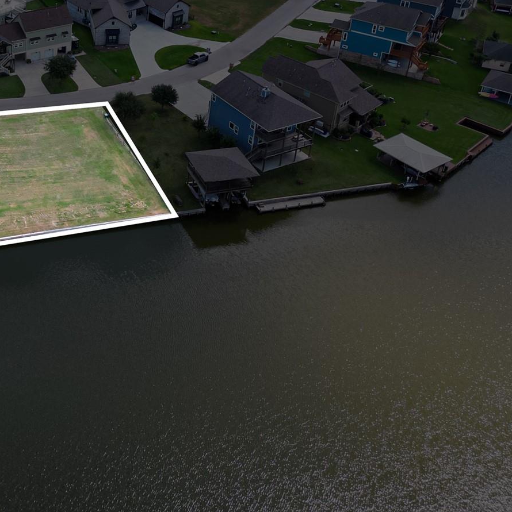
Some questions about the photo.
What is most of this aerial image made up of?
water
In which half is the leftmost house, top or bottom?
top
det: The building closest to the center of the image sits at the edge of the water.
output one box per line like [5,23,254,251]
[179,146,265,217]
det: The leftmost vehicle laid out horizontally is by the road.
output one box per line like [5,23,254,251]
[185,52,211,66]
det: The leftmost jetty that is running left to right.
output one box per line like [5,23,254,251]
[253,196,326,215]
